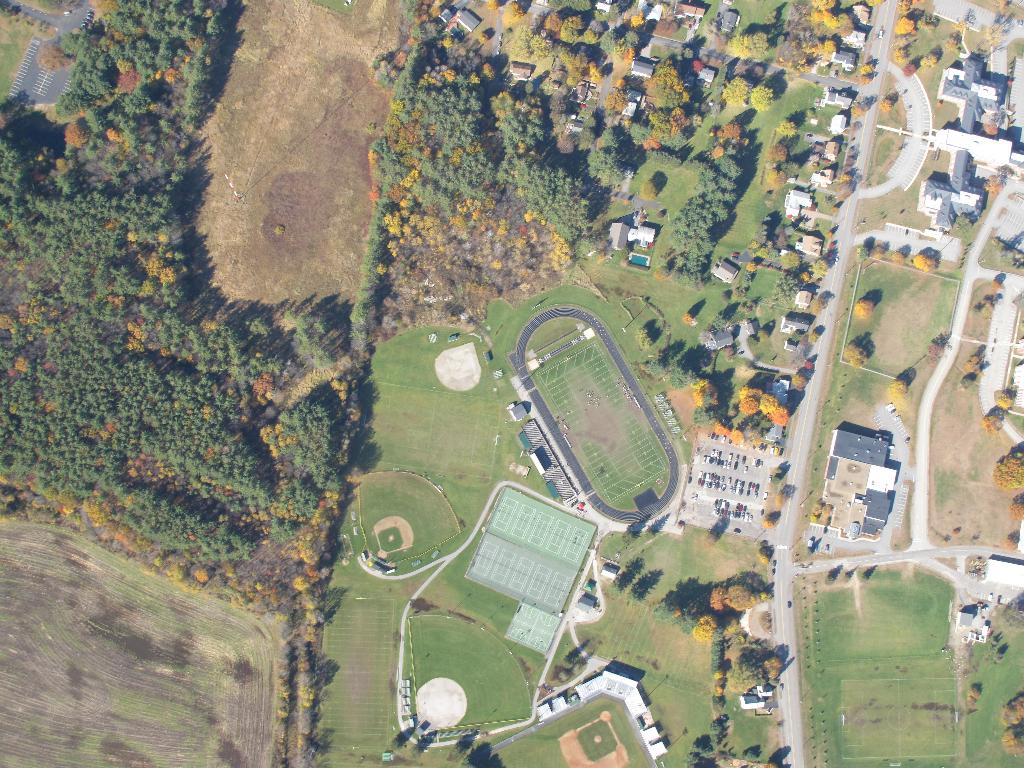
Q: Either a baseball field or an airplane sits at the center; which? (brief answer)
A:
baseball field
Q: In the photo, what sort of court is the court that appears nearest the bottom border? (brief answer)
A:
basketball court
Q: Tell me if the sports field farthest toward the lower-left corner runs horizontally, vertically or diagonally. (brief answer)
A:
vertically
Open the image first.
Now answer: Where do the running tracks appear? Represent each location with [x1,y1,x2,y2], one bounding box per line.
[510,308,682,524]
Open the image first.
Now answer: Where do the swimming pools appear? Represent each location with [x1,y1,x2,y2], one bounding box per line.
[628,252,651,269]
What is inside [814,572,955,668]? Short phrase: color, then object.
green sports field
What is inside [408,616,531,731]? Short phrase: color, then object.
green baseball field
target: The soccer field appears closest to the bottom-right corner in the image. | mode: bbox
[835,675,961,762]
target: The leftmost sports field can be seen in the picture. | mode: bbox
[326,593,396,748]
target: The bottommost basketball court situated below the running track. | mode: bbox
[506,598,562,655]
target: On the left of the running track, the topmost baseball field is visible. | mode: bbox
[435,342,481,390]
